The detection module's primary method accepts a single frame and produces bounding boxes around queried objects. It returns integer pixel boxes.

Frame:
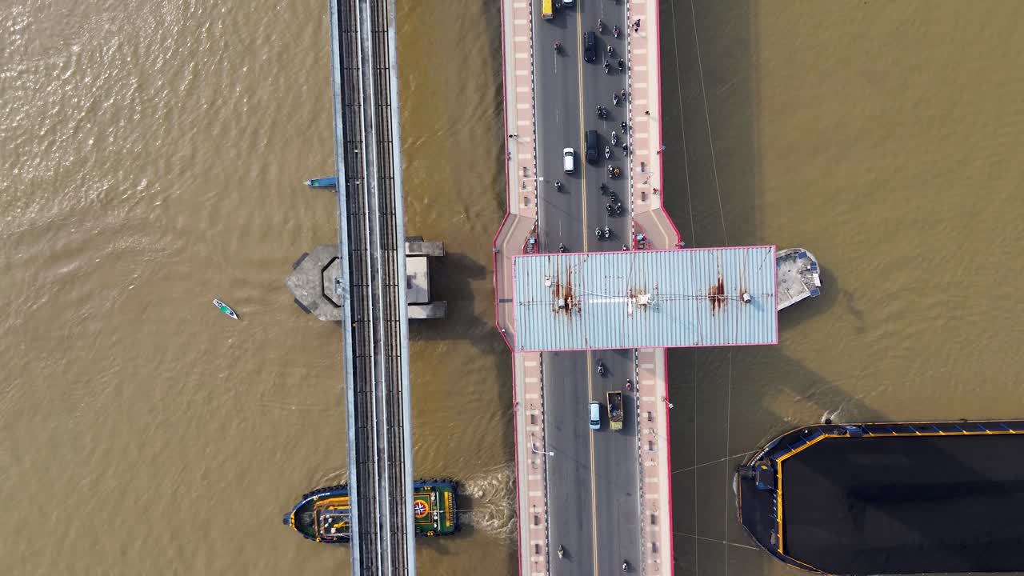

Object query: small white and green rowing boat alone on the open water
[213,299,239,318]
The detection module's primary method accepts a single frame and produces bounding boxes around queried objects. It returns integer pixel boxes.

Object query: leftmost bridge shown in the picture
[327,0,417,576]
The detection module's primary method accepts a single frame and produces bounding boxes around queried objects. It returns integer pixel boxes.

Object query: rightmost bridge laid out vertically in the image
[493,0,681,576]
